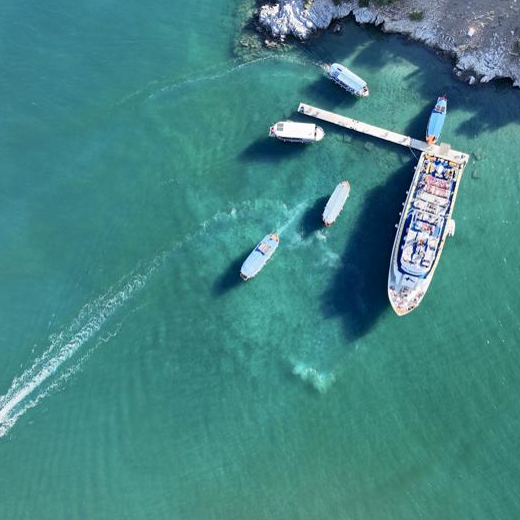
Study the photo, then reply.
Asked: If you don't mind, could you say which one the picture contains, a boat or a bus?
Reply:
boat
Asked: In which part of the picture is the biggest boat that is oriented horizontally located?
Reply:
top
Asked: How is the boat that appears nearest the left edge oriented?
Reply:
on a diagonal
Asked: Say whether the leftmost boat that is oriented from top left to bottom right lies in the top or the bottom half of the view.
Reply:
top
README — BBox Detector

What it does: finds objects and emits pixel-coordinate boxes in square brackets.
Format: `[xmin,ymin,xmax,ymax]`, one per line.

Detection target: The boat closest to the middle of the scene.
[242,232,281,281]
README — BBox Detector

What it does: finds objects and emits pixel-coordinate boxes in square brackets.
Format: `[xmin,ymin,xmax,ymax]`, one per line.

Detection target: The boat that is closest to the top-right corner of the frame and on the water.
[423,95,447,146]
